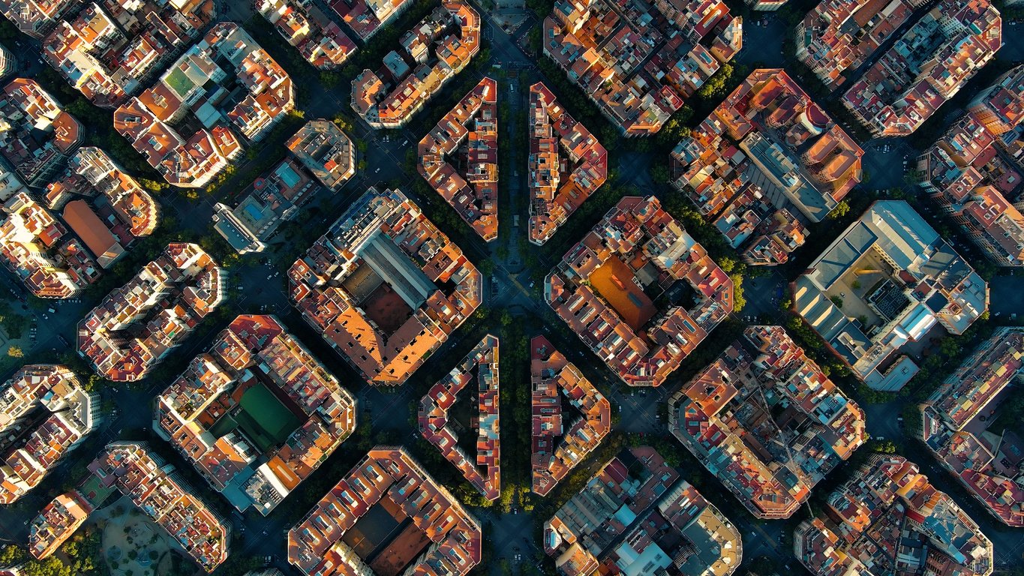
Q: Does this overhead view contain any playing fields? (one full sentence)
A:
Yes, a playing field is visible in the scene.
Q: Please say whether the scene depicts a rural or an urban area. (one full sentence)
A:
This place is urban.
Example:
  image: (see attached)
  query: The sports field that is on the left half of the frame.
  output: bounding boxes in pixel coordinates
[240,381,304,447]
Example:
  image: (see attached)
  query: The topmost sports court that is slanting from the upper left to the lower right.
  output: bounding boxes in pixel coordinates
[232,401,275,453]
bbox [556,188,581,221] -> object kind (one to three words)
house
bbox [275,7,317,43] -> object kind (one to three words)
building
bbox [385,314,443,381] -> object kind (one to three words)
house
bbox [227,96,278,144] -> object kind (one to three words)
building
